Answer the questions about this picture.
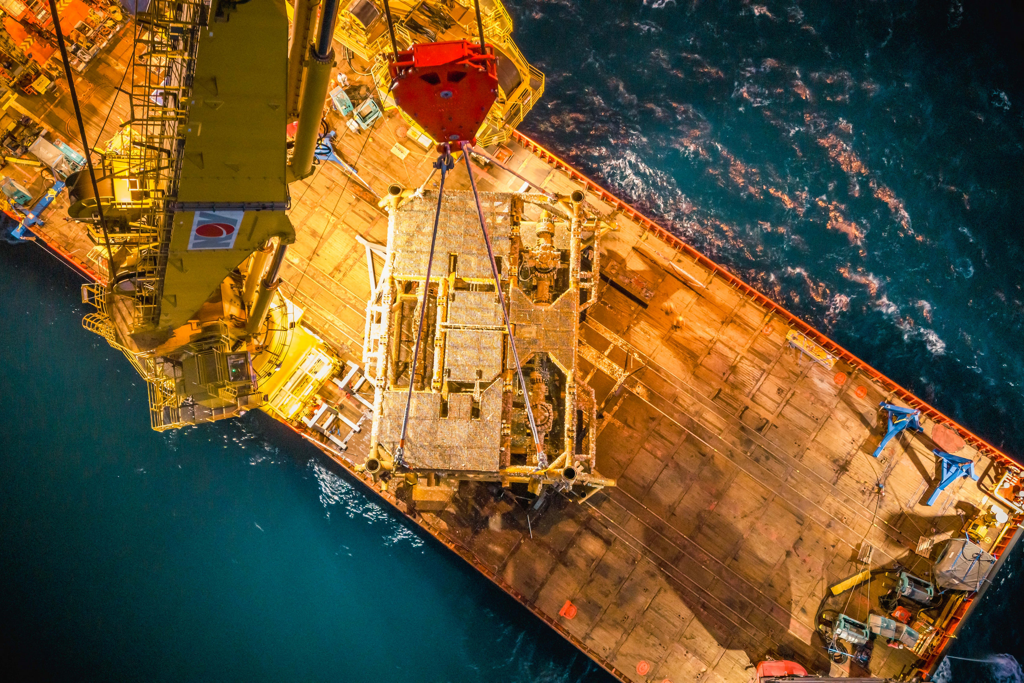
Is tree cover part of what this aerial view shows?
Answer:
No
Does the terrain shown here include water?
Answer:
Yes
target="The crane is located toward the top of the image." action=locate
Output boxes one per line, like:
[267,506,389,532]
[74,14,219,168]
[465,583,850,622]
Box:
[52,0,342,432]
